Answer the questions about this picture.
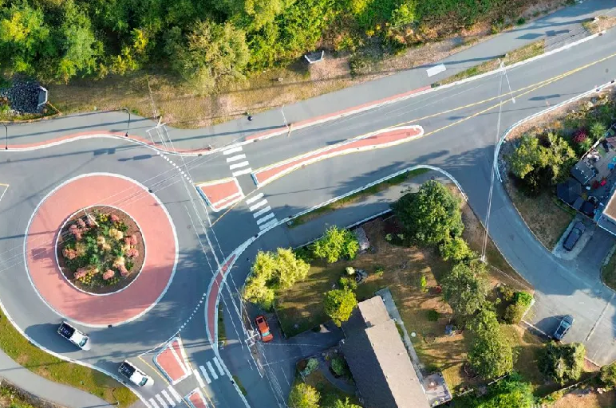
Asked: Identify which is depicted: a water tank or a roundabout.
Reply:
roundabout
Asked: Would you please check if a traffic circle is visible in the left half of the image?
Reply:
Yes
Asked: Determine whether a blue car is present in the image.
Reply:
Yes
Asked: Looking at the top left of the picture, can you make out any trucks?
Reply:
No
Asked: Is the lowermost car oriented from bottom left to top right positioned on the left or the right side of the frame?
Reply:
right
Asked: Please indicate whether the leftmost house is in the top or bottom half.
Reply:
bottom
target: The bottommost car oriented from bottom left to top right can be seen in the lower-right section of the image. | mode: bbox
[552,314,575,341]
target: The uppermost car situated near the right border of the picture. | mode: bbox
[564,221,587,251]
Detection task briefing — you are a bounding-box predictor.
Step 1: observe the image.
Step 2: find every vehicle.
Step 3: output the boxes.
[552,314,575,341]
[254,314,272,343]
[56,320,91,351]
[117,359,153,387]
[564,221,587,251]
